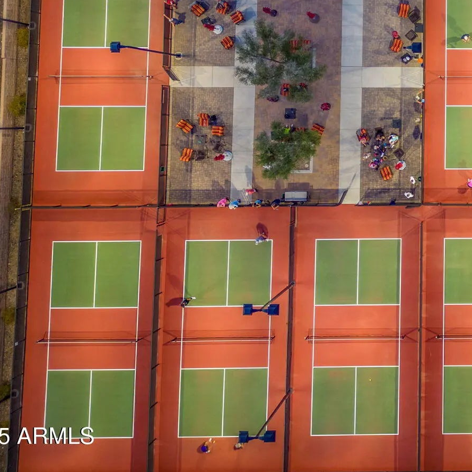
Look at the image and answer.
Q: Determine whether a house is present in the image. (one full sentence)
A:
No, no house is visible in the scene.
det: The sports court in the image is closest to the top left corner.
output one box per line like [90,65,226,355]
[33,0,172,205]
